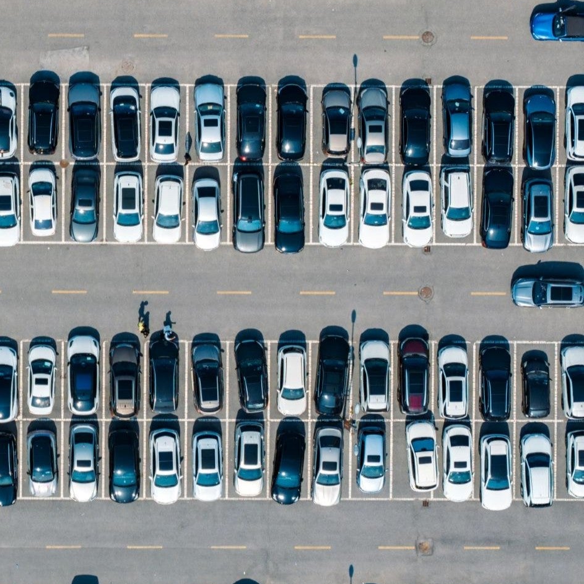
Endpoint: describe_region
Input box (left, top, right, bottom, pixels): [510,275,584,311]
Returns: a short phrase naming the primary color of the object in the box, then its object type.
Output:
blue car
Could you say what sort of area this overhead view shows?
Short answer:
parking lot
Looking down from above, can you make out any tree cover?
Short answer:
No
